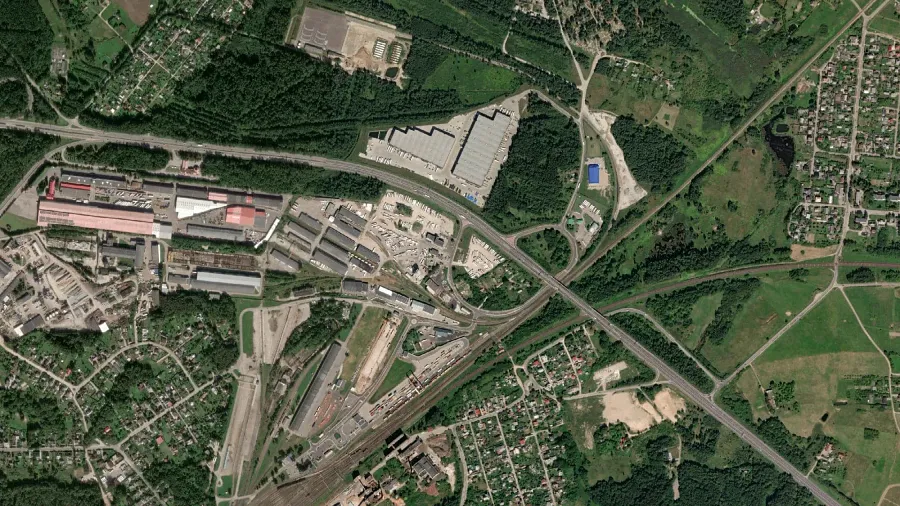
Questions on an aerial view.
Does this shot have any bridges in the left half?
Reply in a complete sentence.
No, the scene shows no bridge in the left half.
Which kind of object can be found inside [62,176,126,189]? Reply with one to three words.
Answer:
building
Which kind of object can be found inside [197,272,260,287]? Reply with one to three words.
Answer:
building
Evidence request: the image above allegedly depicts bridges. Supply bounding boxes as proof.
[534,267,625,340]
